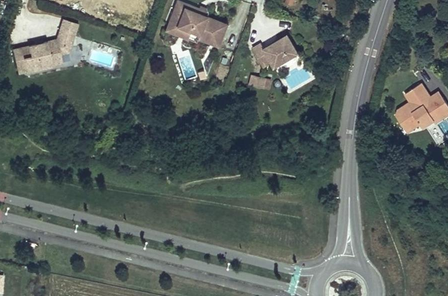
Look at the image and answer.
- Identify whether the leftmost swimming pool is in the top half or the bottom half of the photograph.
top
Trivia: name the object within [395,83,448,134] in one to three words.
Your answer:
house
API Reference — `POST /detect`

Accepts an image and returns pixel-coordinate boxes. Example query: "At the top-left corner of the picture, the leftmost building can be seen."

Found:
[12,18,78,74]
